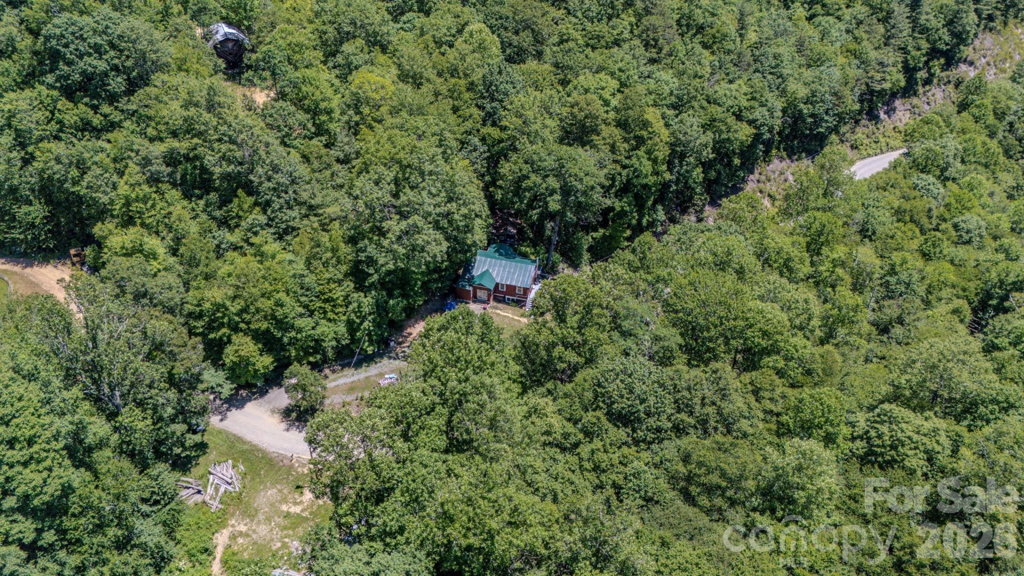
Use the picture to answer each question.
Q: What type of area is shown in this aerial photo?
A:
forest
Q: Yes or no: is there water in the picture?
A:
No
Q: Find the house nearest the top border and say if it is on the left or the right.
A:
left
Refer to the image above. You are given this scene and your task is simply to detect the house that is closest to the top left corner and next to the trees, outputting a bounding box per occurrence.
[201,20,250,72]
